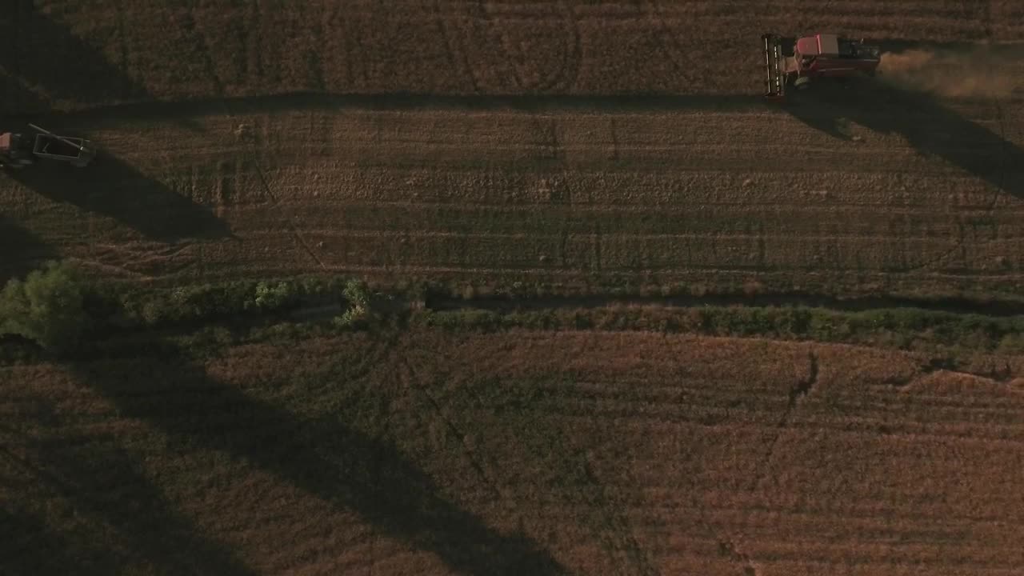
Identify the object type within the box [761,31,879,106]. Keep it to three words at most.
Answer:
work vehicle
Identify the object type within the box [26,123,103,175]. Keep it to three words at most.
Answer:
trailer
